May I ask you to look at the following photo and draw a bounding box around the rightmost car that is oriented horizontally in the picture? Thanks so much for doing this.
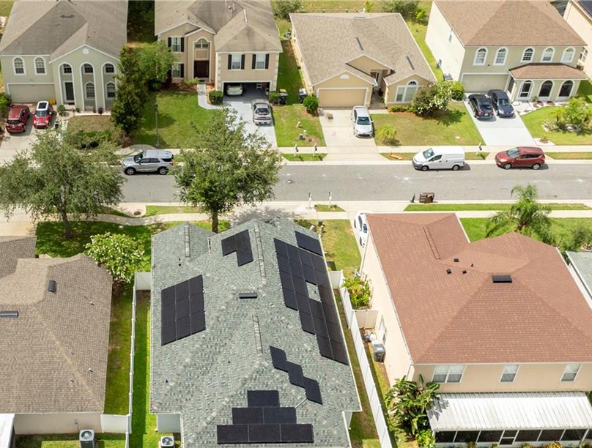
[494,144,548,170]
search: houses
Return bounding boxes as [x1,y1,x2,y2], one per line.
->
[290,11,436,112]
[0,237,113,448]
[0,0,129,142]
[363,213,592,448]
[424,0,589,117]
[155,0,284,117]
[149,214,363,448]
